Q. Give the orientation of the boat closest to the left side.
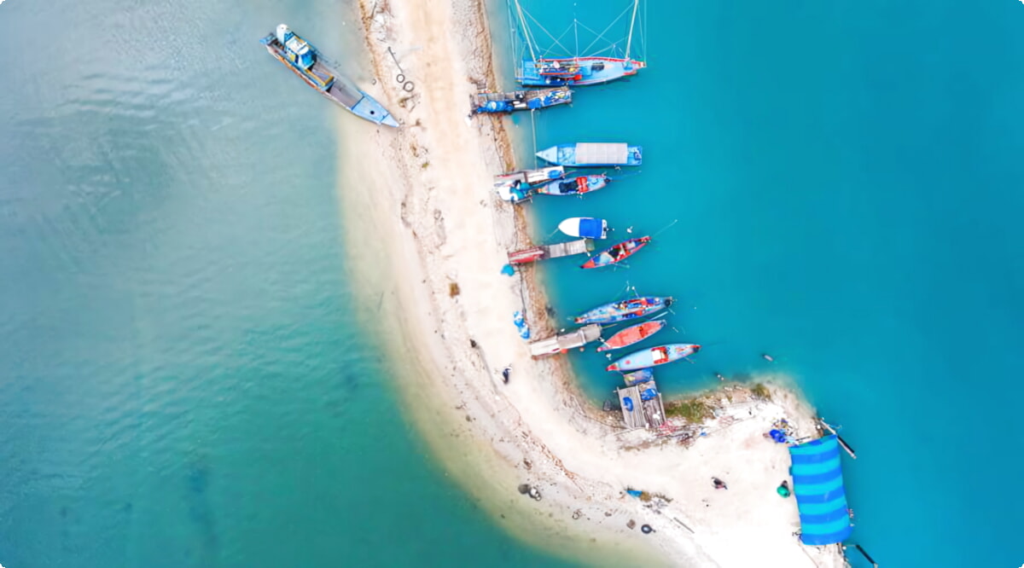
diagonally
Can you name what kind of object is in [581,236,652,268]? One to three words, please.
boat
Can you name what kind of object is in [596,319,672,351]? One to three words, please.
boat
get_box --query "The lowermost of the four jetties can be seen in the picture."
[530,323,602,355]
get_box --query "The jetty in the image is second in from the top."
[494,165,565,185]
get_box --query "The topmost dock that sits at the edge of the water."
[473,85,575,114]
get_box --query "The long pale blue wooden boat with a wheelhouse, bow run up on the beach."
[263,26,399,128]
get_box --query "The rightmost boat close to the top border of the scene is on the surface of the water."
[506,0,646,85]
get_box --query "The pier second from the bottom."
[510,239,588,263]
